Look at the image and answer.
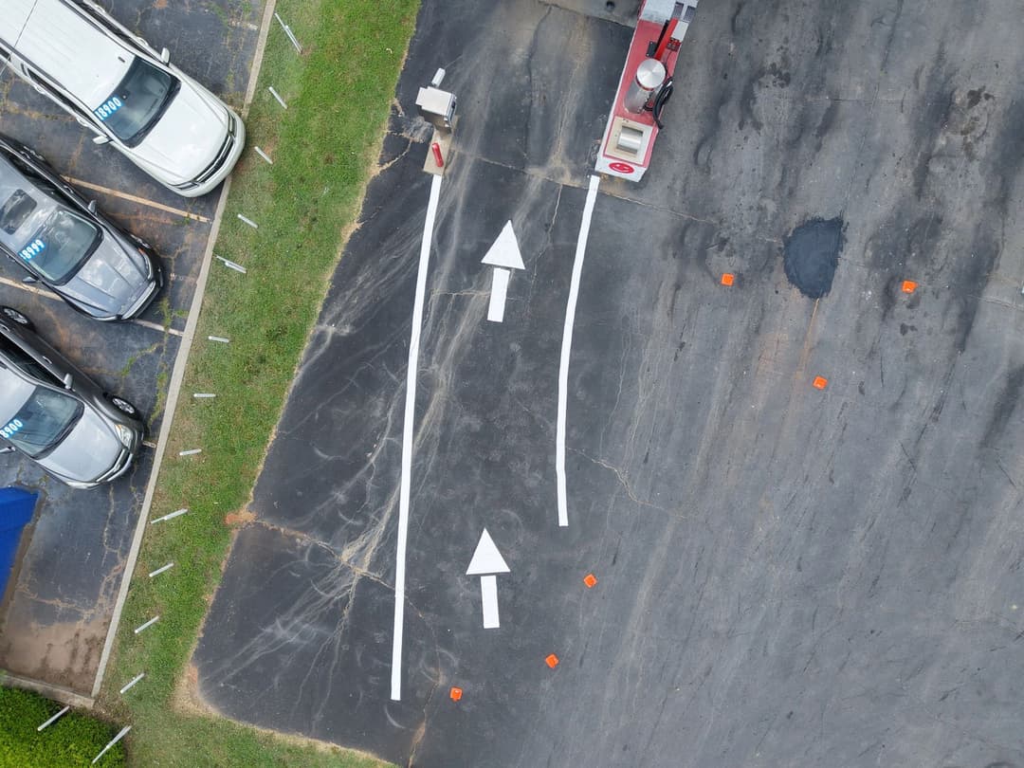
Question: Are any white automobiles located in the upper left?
Yes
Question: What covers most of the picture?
paved ground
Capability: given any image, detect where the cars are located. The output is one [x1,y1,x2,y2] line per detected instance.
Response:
[0,302,138,488]
[0,121,164,319]
[0,0,246,198]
